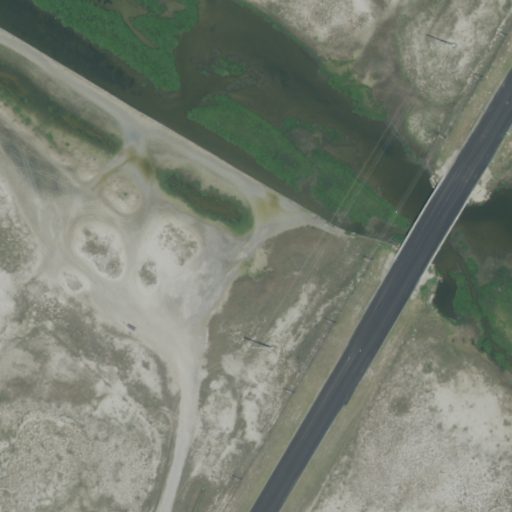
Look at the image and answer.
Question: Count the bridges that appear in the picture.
1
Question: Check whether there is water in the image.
Yes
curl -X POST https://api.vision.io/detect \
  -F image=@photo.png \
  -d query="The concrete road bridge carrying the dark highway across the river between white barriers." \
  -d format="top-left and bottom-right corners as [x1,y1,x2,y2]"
[396,170,477,277]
